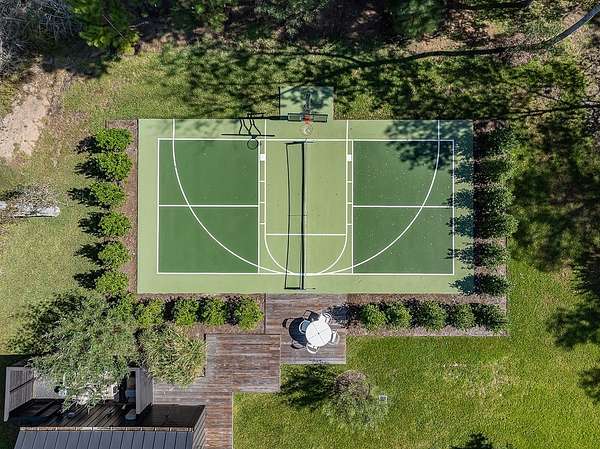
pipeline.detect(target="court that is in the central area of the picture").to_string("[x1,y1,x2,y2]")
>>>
[137,86,473,294]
